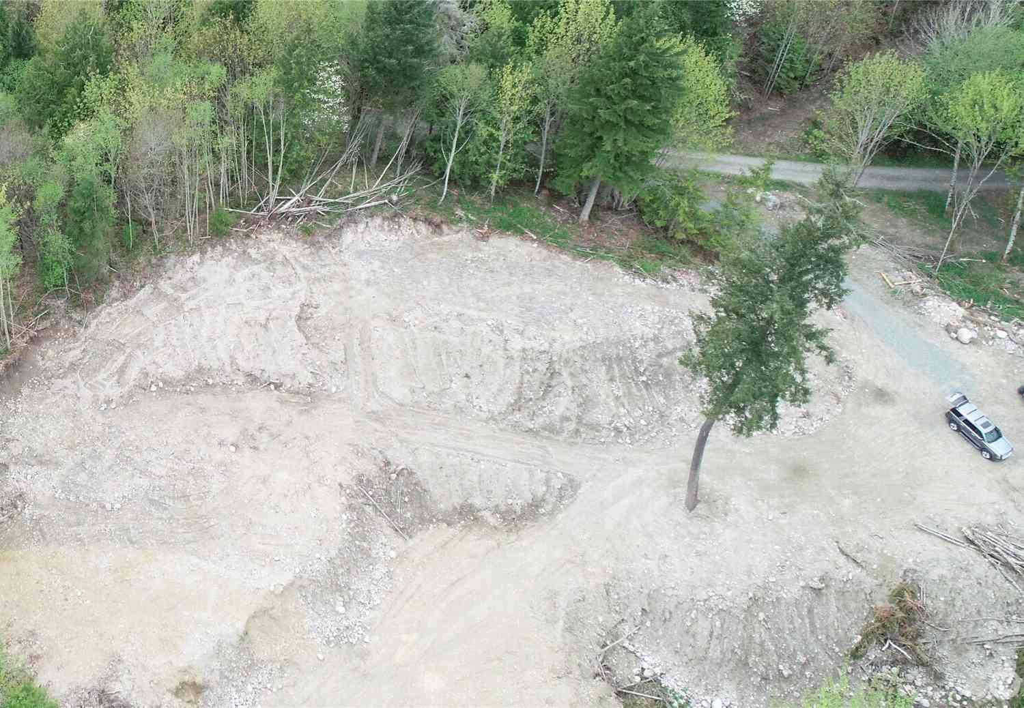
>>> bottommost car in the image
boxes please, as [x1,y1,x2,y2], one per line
[948,388,1020,462]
